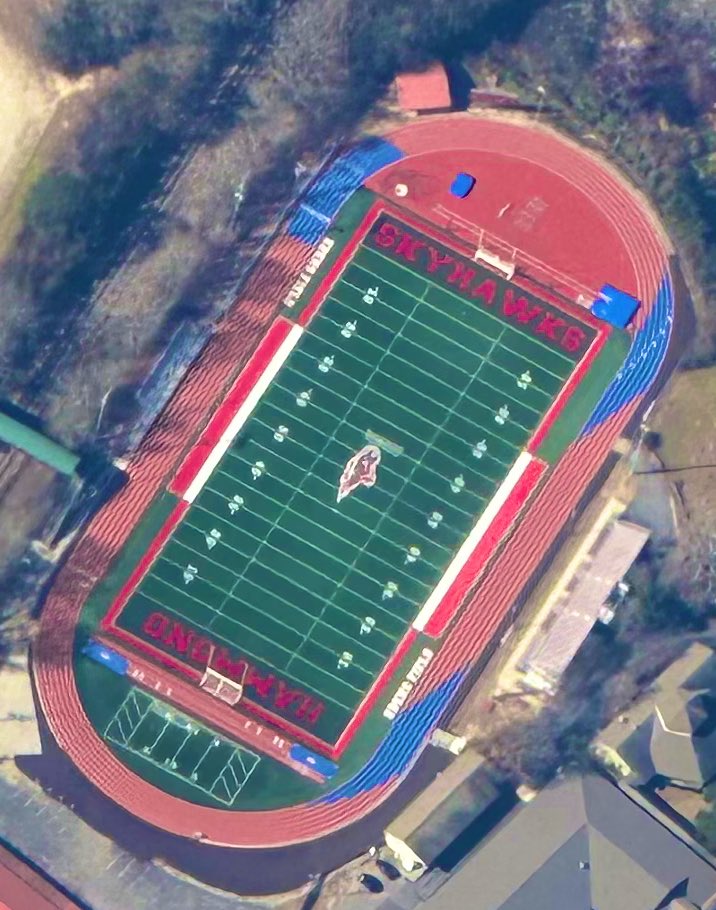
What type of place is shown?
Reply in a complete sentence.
The area seen from above is a sports ground.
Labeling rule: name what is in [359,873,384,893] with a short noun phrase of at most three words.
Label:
car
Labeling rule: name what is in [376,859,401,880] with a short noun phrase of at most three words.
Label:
car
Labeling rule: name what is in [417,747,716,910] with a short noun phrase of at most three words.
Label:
building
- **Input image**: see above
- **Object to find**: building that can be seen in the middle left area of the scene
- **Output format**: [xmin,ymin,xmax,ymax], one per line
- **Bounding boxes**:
[0,411,81,491]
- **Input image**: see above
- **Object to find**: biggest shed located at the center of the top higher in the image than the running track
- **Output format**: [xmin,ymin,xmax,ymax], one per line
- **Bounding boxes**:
[394,68,451,116]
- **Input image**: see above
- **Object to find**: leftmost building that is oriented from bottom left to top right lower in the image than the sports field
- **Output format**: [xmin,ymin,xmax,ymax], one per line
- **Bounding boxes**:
[382,748,505,875]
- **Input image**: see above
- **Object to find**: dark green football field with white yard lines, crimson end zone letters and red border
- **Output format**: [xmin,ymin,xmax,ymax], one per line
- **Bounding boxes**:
[102,202,608,759]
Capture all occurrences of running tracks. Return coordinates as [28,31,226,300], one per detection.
[30,114,673,846]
